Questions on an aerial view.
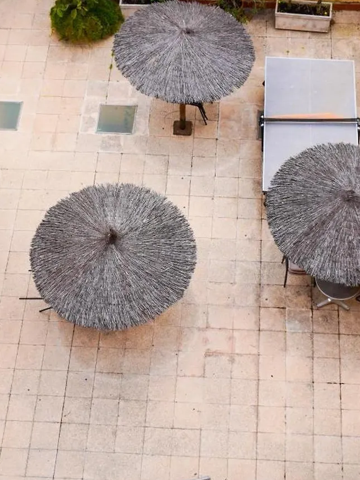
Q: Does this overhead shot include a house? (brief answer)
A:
No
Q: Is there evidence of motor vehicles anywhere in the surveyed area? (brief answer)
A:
No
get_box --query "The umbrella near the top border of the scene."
[117,1,262,135]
